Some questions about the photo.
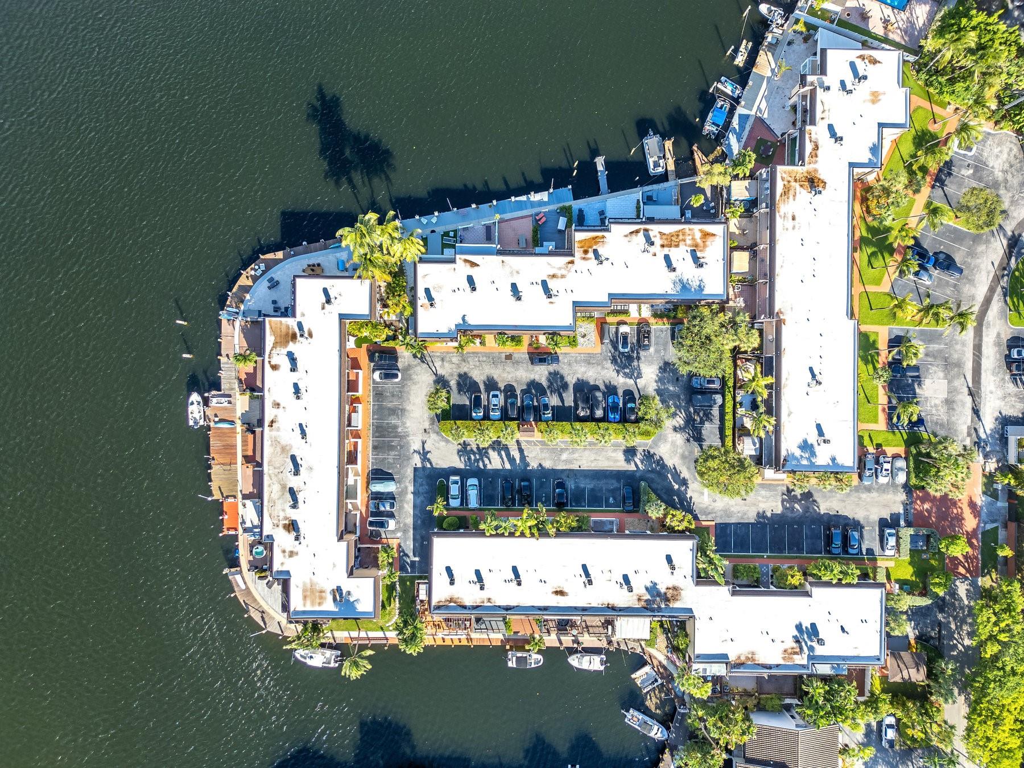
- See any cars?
Yes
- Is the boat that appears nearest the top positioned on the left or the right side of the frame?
right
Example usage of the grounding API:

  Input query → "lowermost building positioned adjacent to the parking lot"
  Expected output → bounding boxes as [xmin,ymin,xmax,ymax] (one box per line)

[430,528,885,675]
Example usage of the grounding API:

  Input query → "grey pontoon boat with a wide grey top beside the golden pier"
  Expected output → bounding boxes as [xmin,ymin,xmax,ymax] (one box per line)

[645,132,665,175]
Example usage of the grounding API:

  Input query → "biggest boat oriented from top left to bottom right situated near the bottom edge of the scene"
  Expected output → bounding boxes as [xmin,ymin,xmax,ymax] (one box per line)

[621,706,666,738]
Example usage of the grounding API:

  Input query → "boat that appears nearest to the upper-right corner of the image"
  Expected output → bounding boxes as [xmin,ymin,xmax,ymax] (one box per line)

[755,4,788,24]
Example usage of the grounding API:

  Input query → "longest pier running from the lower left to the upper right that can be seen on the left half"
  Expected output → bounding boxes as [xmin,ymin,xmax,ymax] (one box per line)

[221,236,344,319]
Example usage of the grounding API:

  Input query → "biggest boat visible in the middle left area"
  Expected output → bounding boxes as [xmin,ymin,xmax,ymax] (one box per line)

[188,391,203,431]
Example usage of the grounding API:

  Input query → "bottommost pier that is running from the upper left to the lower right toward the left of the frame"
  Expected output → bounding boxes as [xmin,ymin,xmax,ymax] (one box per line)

[225,567,296,639]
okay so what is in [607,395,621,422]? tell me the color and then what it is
blue car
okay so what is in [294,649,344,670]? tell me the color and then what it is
white boat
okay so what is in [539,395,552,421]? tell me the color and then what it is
blue vehicle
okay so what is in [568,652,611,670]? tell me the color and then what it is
white boat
